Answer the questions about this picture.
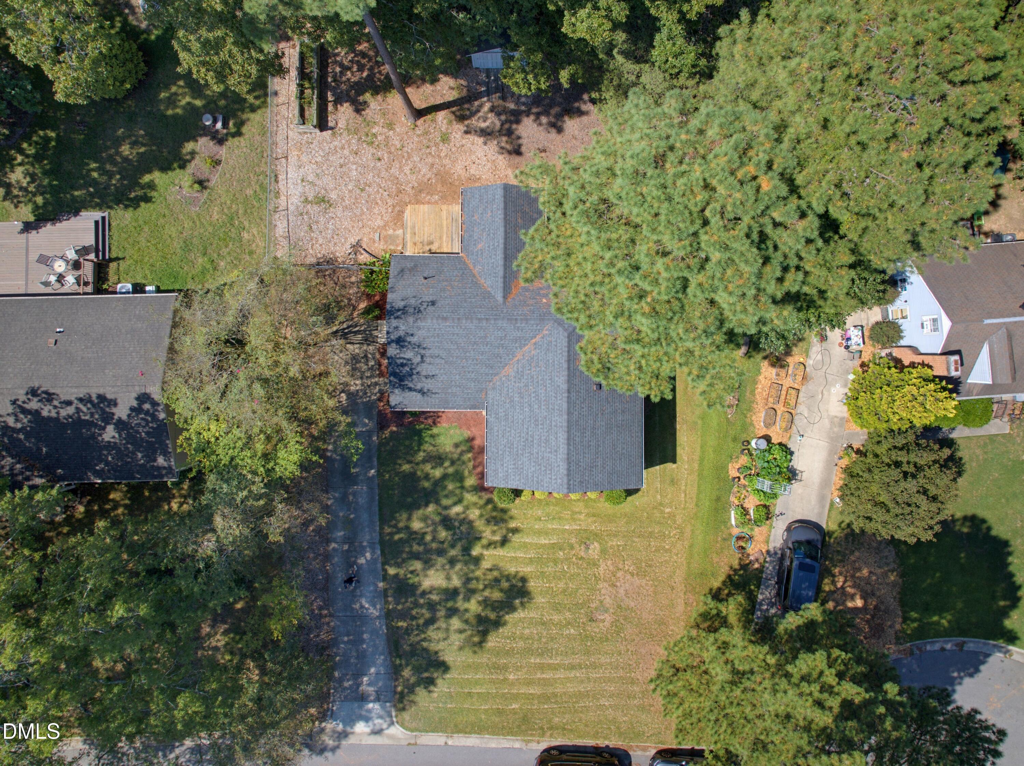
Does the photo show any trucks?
No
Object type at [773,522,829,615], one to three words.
car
